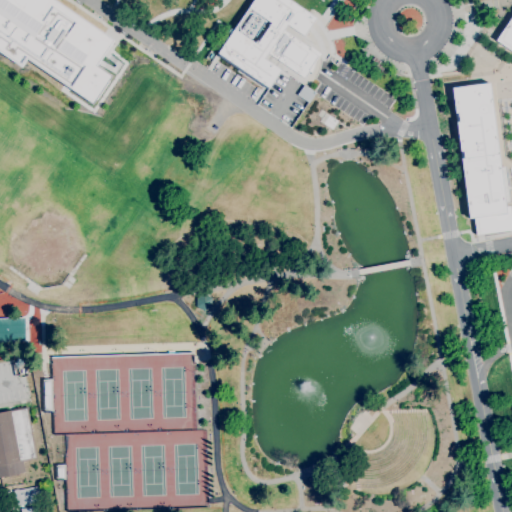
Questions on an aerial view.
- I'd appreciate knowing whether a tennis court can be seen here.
Yes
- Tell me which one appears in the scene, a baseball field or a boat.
baseball field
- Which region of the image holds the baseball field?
left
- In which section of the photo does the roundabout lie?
top right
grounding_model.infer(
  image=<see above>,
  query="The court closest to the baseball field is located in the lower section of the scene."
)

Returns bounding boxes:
[0,318,26,342]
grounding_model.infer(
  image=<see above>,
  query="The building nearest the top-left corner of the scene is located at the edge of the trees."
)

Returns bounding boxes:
[0,0,114,104]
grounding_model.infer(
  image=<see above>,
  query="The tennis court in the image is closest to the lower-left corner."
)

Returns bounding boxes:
[75,447,102,498]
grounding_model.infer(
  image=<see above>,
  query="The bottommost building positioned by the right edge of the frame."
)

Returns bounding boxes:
[454,82,512,235]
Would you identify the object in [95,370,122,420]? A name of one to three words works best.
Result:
tennis court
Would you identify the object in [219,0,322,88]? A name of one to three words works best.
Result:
building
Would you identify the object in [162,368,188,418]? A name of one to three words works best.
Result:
tennis court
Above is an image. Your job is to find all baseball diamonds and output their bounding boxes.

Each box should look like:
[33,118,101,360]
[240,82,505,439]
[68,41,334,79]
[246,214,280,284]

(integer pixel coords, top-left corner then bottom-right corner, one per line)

[10,215,86,294]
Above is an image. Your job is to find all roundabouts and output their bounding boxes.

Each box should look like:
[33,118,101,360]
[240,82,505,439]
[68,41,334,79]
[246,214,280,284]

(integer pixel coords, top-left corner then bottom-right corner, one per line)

[369,0,453,60]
